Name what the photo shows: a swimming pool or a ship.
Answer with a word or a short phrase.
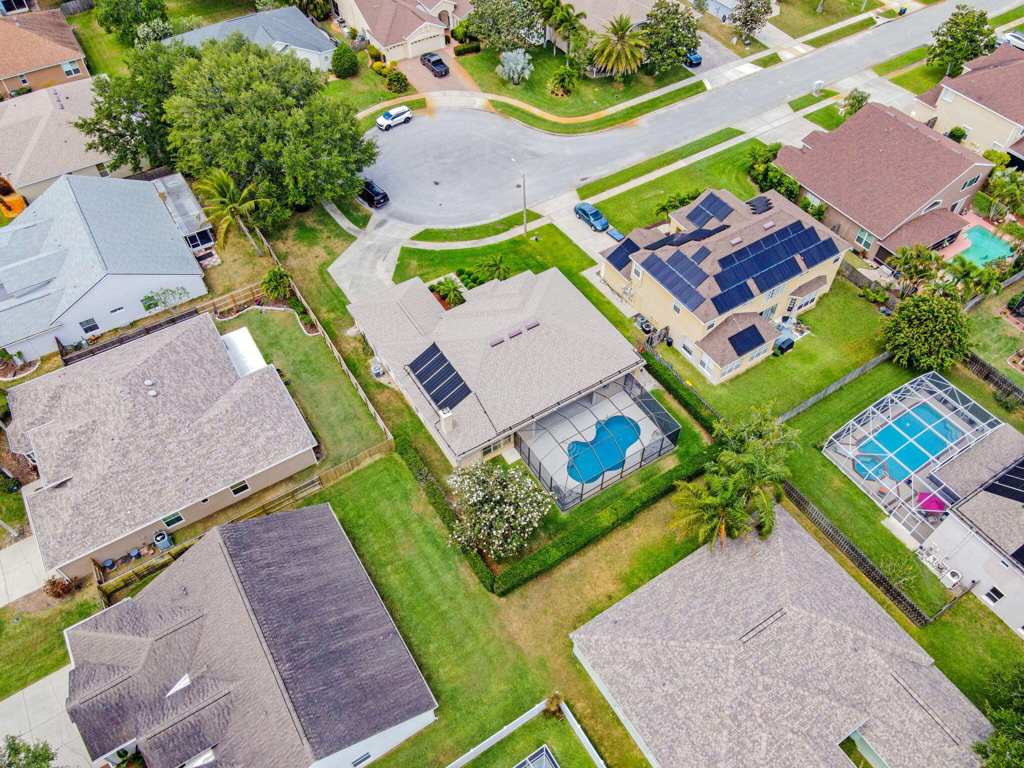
swimming pool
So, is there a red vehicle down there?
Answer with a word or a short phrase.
No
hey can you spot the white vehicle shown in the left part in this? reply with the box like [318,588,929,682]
[375,105,413,129]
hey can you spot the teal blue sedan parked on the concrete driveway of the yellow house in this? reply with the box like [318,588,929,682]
[573,199,609,232]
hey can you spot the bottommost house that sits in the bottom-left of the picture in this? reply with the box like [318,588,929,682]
[55,500,439,768]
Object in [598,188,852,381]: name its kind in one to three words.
house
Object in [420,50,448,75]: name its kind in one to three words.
truck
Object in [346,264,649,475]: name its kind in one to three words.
house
